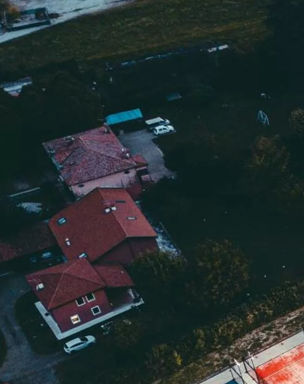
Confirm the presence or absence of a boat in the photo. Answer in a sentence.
No, the frame has no boat in it.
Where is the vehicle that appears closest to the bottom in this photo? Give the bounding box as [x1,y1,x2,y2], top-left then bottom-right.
[61,335,96,354]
